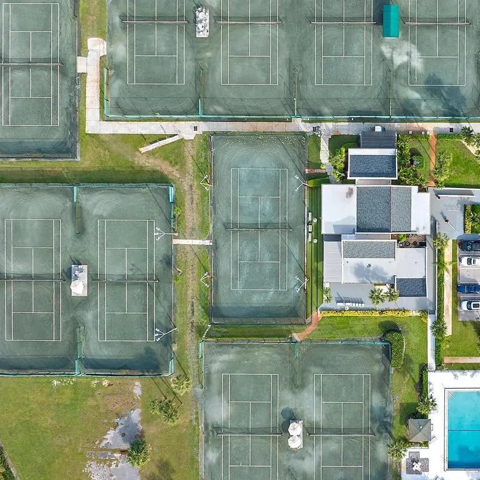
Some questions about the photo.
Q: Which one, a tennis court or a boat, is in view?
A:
tennis court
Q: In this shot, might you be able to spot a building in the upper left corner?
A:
No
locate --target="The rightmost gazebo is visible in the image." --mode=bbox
[408,419,431,443]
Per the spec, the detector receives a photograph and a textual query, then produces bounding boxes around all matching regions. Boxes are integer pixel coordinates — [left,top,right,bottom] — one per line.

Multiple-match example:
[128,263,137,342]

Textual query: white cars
[460,256,480,266]
[461,299,480,311]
